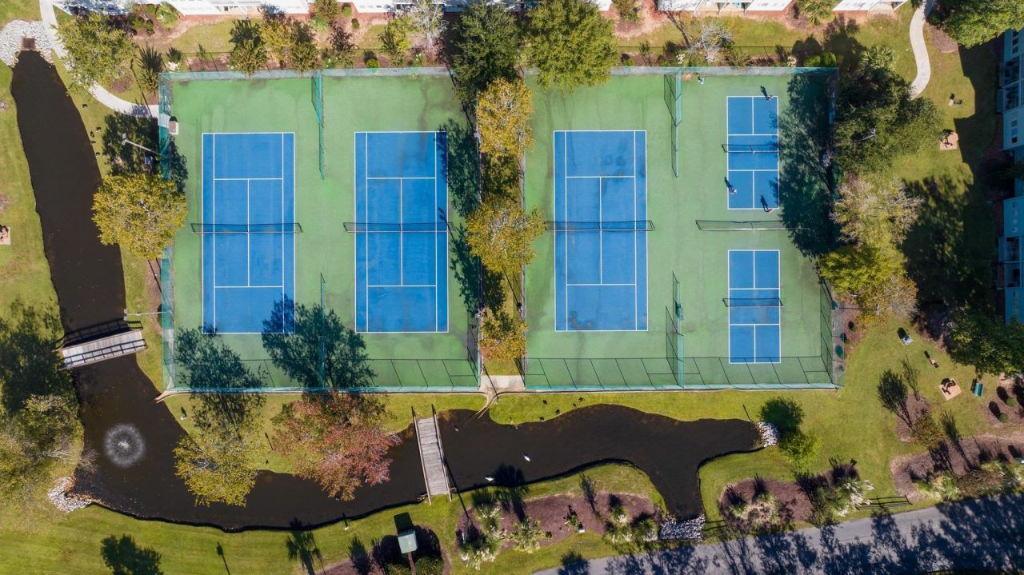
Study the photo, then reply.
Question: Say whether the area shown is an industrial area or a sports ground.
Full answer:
What you see here is a sports ground.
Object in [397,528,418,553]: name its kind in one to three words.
shed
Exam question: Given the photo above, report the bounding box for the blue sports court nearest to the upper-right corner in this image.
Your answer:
[727,96,779,209]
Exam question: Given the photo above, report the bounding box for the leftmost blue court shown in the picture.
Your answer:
[202,133,295,333]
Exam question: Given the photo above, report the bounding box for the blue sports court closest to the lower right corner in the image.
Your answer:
[729,250,781,363]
